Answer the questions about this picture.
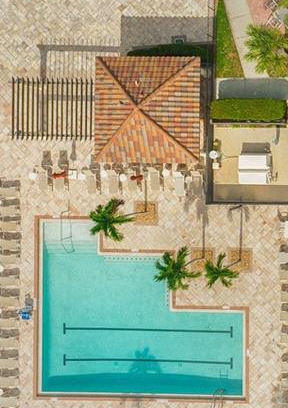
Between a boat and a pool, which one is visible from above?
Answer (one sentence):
The one in the frame is a pool.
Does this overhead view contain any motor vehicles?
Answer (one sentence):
No, I can see no motor vehicle in this picture.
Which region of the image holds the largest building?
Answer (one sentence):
Look in the top portion of the view to spot the largest building.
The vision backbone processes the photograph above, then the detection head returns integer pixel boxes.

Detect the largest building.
[92,56,211,165]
